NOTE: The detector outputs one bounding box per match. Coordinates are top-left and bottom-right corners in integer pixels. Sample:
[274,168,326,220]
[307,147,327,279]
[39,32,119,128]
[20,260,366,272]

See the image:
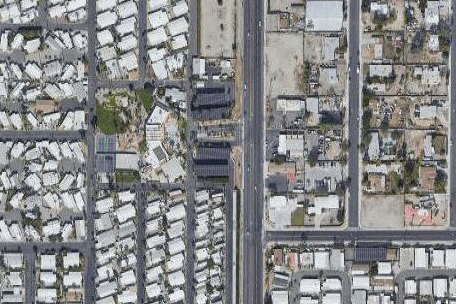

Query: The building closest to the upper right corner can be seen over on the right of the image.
[425,0,439,28]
